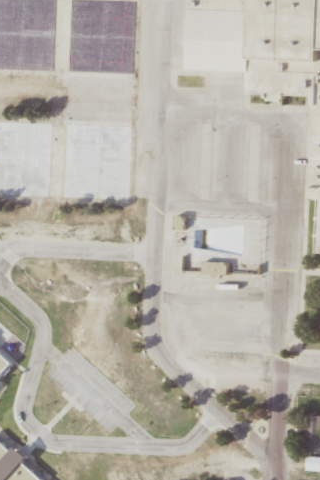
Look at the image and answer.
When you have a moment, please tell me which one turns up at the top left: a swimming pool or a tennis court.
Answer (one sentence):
You can see a tennis court at the top left.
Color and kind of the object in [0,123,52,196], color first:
white sports court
